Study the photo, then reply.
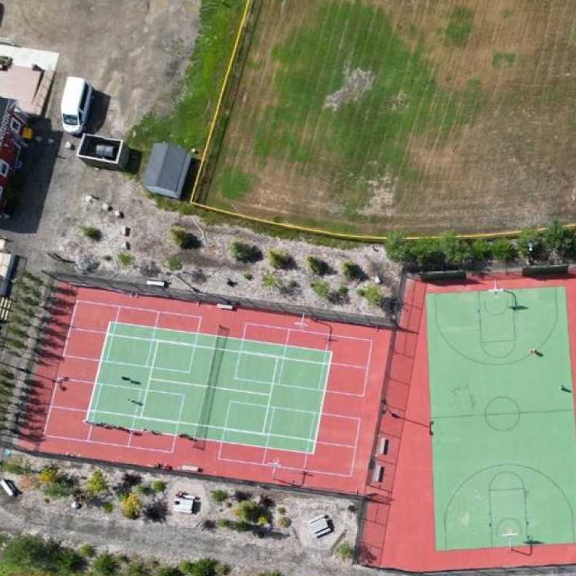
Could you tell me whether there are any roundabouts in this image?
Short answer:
No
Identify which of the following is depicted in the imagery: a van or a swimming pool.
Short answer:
van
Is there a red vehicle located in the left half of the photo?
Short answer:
No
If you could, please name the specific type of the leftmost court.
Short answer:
tennis court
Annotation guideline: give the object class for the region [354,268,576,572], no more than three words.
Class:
basketball court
